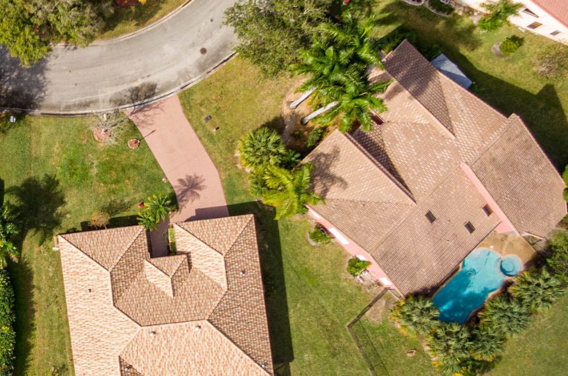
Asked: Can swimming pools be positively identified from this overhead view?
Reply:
Yes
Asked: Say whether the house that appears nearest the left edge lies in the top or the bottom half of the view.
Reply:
bottom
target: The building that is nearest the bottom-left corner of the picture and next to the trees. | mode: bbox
[57,214,274,376]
